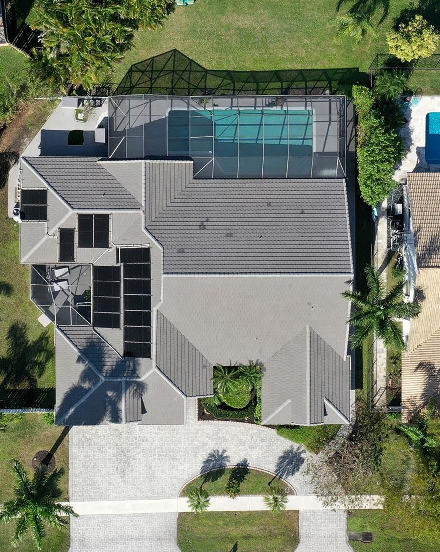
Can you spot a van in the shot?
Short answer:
No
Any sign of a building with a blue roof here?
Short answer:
No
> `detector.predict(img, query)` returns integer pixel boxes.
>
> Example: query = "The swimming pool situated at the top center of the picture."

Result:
[169,110,312,176]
